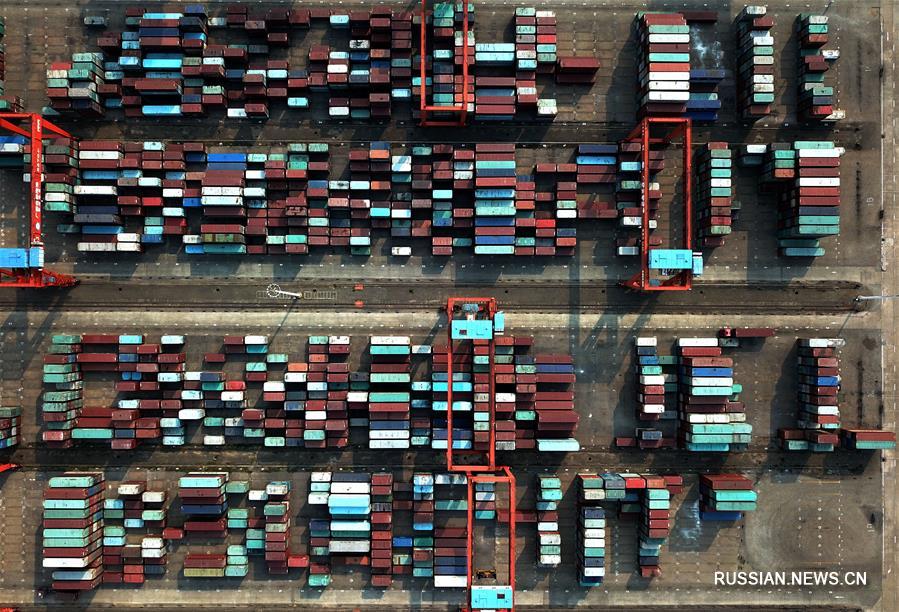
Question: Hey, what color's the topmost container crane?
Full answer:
The topmost container crane looks red in the image.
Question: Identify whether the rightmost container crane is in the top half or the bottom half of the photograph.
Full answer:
Seen from above, the rightmost container crane lies in the top half of the view.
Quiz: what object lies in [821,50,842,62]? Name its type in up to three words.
vehicle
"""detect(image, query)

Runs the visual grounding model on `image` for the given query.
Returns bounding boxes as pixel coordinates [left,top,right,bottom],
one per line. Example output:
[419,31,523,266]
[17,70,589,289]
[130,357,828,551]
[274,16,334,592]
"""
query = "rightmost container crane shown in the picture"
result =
[619,116,703,291]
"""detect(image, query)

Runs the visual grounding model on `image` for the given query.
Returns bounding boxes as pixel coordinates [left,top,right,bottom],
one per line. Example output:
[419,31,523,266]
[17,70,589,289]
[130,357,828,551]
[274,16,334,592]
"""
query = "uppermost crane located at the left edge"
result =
[0,115,86,288]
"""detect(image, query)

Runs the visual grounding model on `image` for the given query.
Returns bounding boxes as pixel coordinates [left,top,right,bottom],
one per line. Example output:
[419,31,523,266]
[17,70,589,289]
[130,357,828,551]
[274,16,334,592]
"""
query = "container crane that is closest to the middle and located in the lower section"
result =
[442,298,505,471]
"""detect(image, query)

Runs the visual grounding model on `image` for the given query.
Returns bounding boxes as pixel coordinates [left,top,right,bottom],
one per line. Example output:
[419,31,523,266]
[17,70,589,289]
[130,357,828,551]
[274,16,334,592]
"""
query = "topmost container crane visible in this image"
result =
[421,0,470,126]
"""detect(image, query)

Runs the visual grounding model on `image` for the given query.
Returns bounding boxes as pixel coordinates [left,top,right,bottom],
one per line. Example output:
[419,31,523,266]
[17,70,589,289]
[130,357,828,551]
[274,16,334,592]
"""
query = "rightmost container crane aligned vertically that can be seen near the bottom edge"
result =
[461,464,518,612]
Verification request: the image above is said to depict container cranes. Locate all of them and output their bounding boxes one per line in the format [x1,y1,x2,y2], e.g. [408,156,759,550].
[421,0,470,126]
[619,116,703,291]
[442,298,505,471]
[0,115,86,288]
[461,464,518,612]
